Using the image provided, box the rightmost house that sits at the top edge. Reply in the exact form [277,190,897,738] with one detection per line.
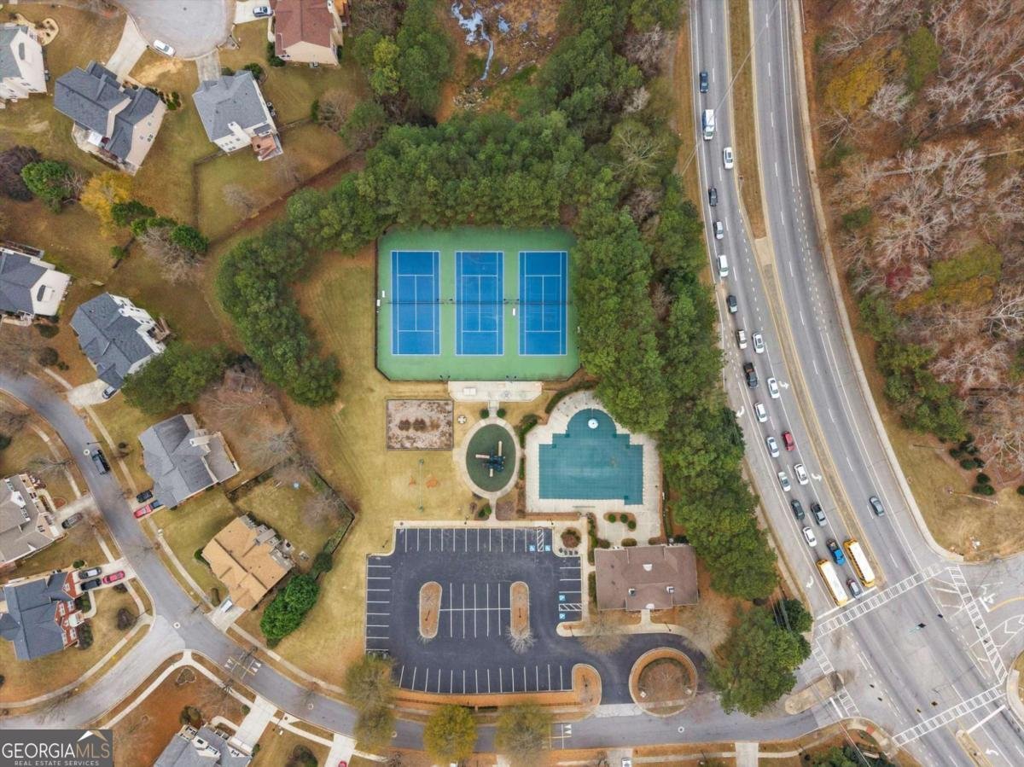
[265,0,351,63]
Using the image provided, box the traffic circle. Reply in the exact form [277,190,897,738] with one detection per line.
[628,647,698,717]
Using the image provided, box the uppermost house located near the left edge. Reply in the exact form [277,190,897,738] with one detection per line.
[0,24,45,95]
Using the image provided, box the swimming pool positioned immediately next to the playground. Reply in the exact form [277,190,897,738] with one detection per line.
[526,390,661,547]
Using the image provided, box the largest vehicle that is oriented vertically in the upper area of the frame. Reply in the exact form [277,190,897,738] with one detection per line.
[702,107,716,142]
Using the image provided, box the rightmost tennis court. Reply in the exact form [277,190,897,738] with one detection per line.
[515,251,572,355]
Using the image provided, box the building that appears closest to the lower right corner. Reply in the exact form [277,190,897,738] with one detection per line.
[594,544,697,611]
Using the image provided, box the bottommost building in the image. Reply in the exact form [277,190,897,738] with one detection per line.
[155,720,259,767]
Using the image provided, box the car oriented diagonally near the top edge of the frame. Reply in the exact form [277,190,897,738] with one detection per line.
[153,38,176,57]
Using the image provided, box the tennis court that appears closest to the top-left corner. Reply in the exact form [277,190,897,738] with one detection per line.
[387,251,443,355]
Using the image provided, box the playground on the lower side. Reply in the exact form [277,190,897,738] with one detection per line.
[453,416,526,520]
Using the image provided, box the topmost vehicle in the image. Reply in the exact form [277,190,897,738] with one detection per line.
[245,3,273,17]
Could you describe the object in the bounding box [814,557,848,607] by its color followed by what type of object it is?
white bus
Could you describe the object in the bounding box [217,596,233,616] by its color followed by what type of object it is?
white vehicle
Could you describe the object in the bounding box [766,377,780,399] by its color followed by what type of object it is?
white car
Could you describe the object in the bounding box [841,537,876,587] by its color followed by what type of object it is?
white bus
